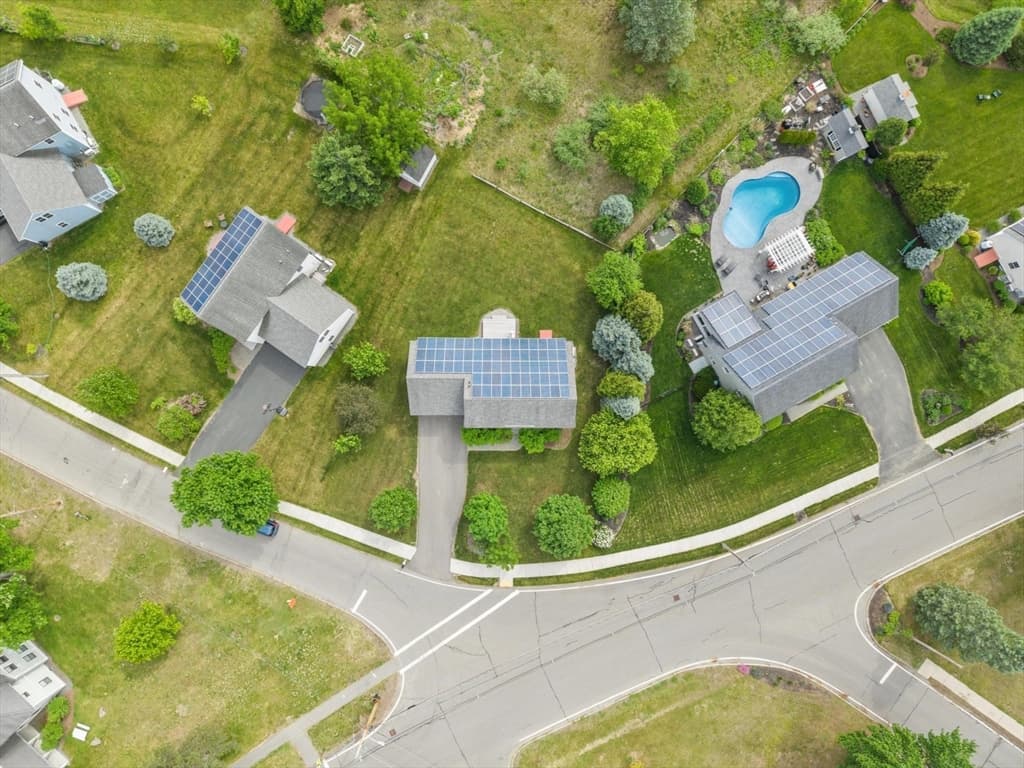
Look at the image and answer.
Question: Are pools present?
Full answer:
Yes, a pool appears in the view.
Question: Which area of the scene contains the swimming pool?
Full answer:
The swimming pool appears toward the top right of the photo.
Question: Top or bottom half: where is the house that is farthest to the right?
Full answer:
You can find the house that is farthest to the right in the top half.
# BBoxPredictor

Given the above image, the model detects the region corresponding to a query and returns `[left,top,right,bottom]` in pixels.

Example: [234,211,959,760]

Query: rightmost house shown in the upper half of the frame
[975,220,1024,302]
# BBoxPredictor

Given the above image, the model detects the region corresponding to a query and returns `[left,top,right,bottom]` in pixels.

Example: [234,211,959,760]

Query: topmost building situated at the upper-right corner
[861,74,922,130]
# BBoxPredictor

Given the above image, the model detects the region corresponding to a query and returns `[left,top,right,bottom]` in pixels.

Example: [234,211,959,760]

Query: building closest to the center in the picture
[406,321,577,429]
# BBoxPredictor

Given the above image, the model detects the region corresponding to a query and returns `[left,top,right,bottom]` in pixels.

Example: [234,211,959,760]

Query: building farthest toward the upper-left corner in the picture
[0,57,118,241]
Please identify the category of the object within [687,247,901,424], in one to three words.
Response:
house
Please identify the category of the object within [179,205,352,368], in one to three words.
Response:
house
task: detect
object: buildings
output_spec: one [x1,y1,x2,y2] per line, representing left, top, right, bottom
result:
[406,321,577,429]
[975,220,1024,302]
[394,138,439,194]
[861,74,922,130]
[0,632,82,768]
[0,57,118,241]
[179,205,352,368]
[687,247,901,424]
[819,109,869,162]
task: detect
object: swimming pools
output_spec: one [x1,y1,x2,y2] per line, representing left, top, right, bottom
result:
[724,171,800,248]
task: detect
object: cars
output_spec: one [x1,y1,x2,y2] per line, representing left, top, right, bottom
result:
[0,206,8,225]
[239,512,279,534]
